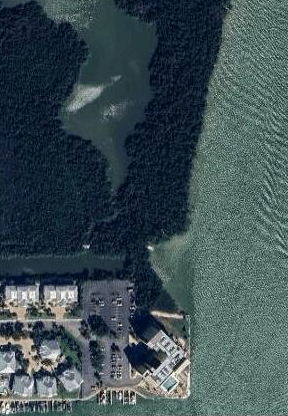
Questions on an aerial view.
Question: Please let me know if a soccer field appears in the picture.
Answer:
No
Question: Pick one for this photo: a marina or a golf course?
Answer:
marina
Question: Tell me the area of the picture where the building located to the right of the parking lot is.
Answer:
bottom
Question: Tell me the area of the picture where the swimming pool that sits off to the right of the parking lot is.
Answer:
bottom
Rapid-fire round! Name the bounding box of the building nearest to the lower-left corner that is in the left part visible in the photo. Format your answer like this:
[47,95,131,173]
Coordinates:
[10,373,33,395]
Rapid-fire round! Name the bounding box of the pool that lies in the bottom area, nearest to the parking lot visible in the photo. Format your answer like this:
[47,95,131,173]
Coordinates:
[158,372,181,395]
